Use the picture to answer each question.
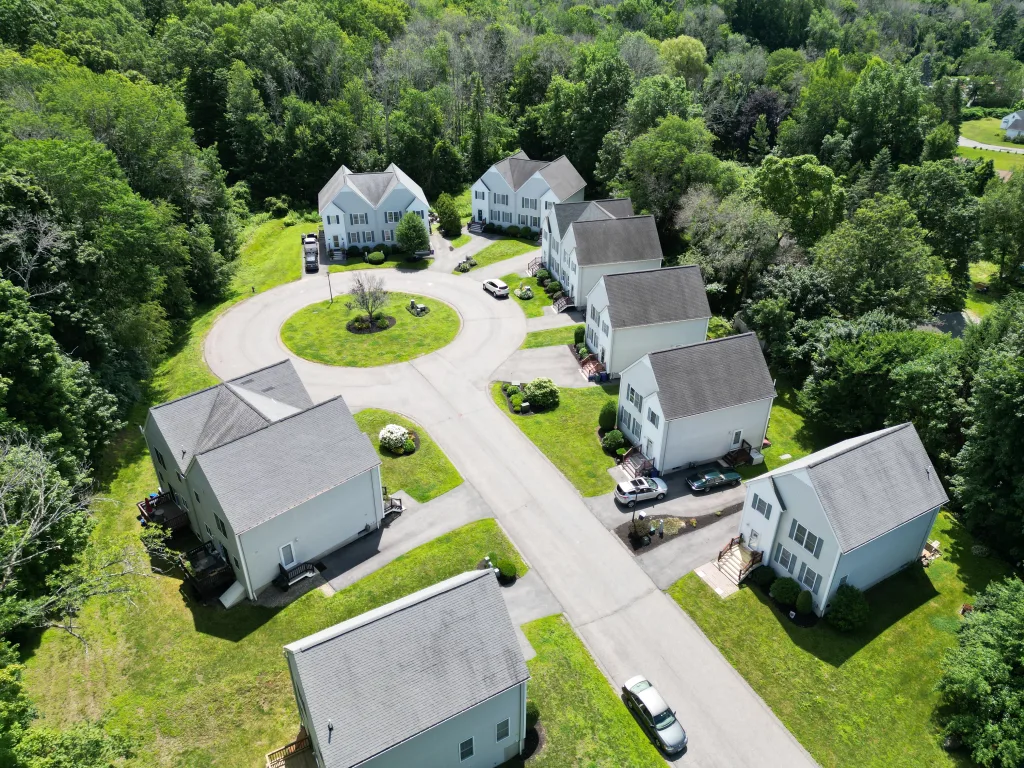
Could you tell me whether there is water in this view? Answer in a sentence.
No, there's no water in this view.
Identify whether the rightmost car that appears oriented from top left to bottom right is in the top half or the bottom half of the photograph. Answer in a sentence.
You can find the rightmost car that appears oriented from top left to bottom right in the bottom half.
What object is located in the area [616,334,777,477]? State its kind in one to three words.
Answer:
house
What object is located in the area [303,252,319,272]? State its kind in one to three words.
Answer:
car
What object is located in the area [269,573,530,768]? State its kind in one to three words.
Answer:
house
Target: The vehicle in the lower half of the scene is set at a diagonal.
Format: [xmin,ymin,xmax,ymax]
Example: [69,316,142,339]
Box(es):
[621,673,692,753]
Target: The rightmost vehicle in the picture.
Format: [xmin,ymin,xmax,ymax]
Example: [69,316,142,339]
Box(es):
[686,463,746,490]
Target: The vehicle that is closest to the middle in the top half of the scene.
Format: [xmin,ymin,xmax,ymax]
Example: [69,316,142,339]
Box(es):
[481,277,510,295]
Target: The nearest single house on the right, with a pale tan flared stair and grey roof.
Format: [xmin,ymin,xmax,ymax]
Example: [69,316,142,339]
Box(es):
[707,424,949,614]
